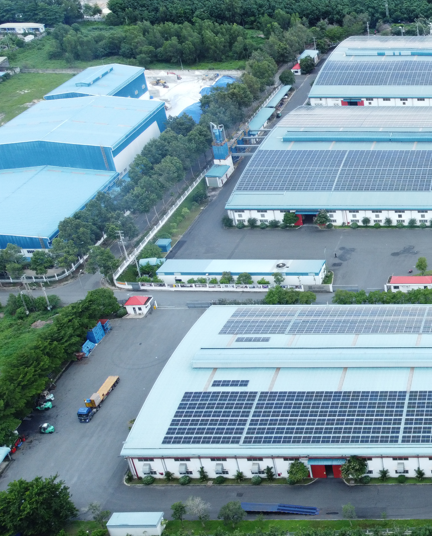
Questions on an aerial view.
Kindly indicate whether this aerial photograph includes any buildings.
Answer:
Yes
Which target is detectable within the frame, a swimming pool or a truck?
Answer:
truck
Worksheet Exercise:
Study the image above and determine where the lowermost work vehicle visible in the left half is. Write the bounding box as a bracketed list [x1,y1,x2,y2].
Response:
[31,422,53,435]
